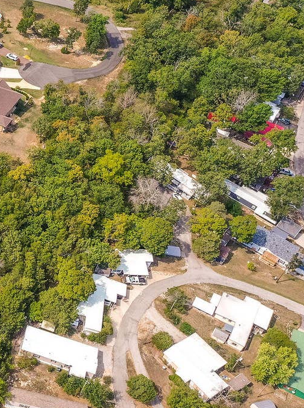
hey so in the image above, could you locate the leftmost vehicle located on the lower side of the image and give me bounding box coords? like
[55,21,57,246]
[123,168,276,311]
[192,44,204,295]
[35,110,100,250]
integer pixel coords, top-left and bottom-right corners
[70,316,83,332]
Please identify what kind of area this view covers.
residential area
